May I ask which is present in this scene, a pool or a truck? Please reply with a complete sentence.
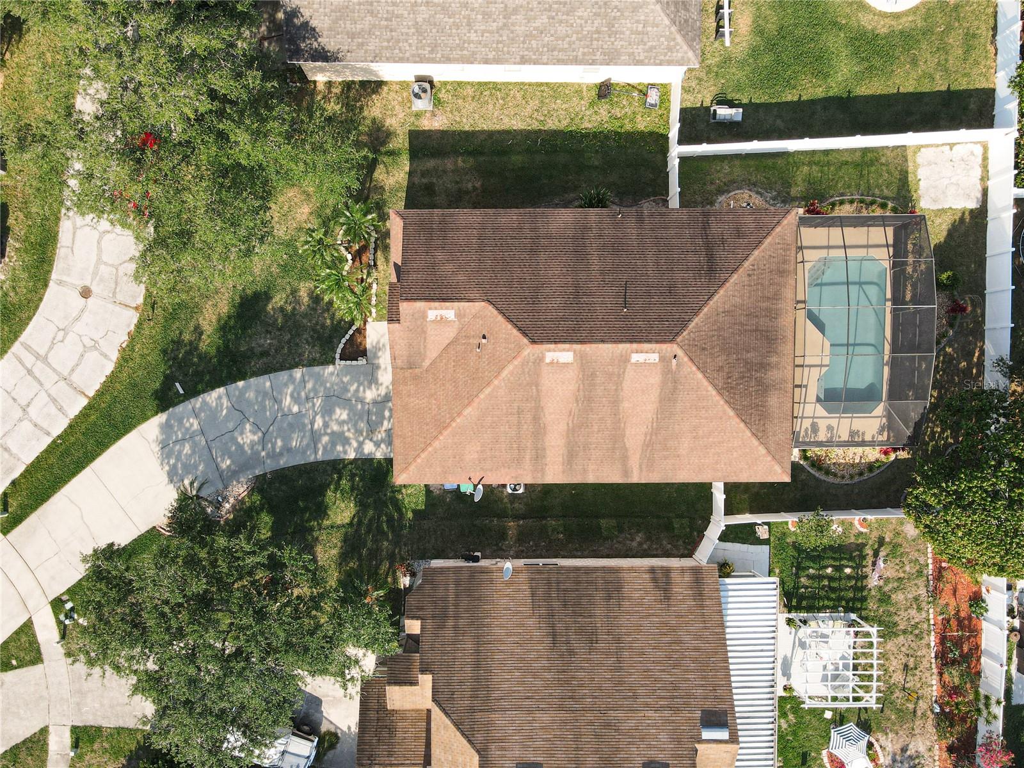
The one in the frame is a pool.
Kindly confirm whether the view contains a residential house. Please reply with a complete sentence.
Yes, the frame does contain a residential house.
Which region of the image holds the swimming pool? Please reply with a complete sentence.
The swimming pool is in the right part of the image.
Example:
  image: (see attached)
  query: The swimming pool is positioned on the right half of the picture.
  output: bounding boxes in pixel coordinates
[806,254,889,416]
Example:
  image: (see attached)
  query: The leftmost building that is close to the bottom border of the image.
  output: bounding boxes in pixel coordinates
[357,559,740,768]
